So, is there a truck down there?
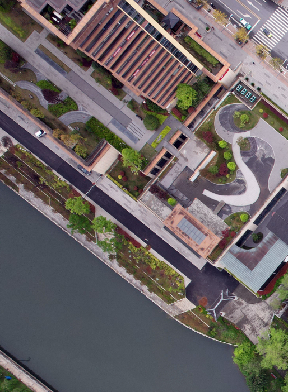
No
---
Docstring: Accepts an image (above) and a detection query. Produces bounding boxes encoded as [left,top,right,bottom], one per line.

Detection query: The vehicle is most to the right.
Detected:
[260,25,274,39]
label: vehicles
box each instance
[238,16,252,29]
[32,127,46,138]
[260,25,274,39]
[76,161,90,173]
